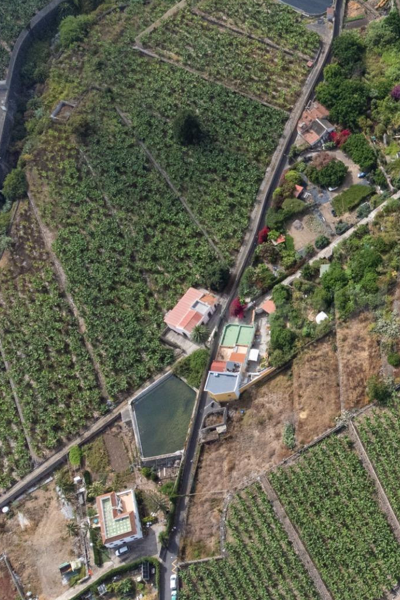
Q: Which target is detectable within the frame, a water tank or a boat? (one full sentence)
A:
Looking from above, you can make out a water tank.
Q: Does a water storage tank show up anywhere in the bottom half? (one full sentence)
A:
Yes, you'll find a water storage tank in the bottom half.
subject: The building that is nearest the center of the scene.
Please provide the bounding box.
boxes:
[164,287,219,339]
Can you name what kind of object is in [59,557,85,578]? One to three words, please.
shed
